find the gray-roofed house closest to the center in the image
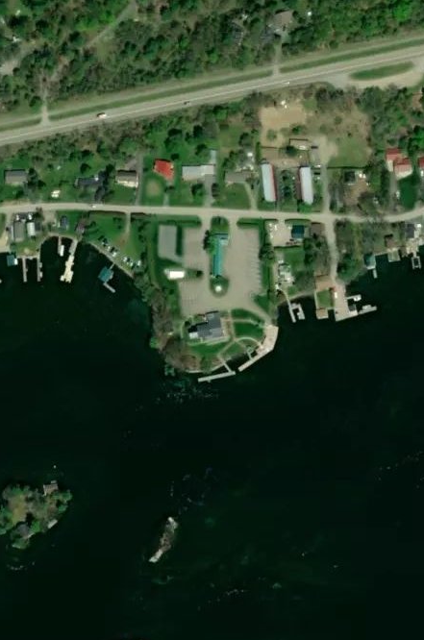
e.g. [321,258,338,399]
[188,312,222,339]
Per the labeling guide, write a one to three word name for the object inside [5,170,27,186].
house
